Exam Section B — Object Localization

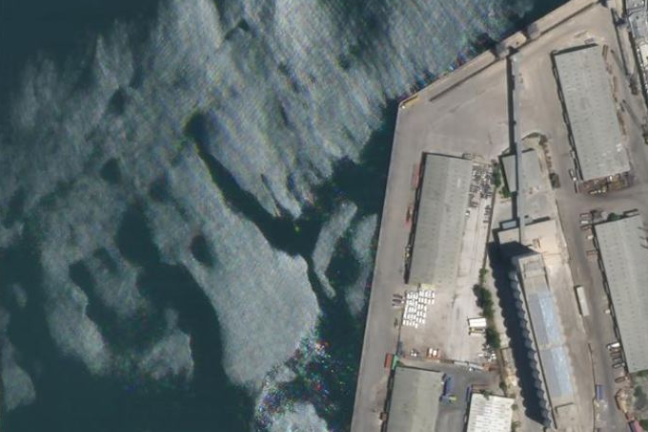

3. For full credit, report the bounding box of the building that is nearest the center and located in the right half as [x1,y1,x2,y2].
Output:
[405,153,472,288]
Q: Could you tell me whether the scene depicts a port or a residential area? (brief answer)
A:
port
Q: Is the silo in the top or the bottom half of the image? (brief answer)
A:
bottom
